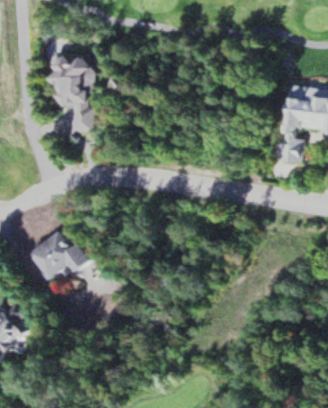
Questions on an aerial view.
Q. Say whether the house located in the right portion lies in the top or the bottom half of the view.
top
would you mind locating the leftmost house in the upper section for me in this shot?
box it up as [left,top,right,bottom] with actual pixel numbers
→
[44,52,96,132]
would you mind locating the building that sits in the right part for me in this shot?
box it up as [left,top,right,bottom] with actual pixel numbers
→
[281,83,328,159]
